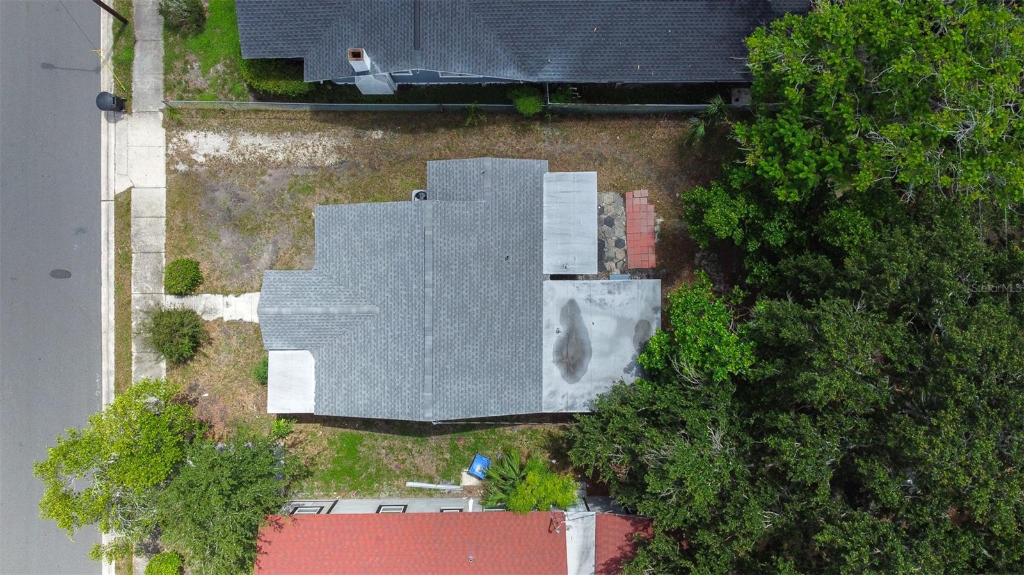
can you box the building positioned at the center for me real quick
[256,157,661,426]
